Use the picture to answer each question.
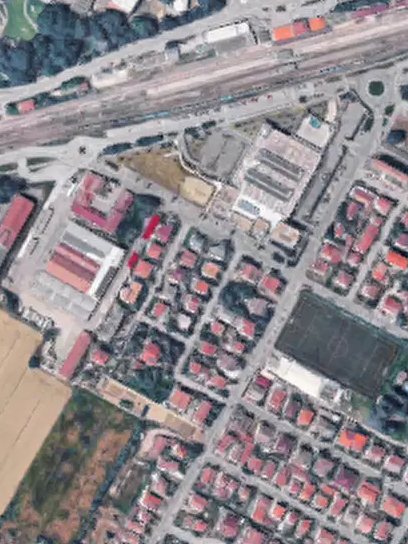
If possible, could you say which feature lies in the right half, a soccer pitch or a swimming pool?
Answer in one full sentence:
You can see a soccer pitch in the right half.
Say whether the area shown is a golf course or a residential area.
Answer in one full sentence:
It's a residential area.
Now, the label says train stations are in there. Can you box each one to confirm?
[269,17,333,47]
